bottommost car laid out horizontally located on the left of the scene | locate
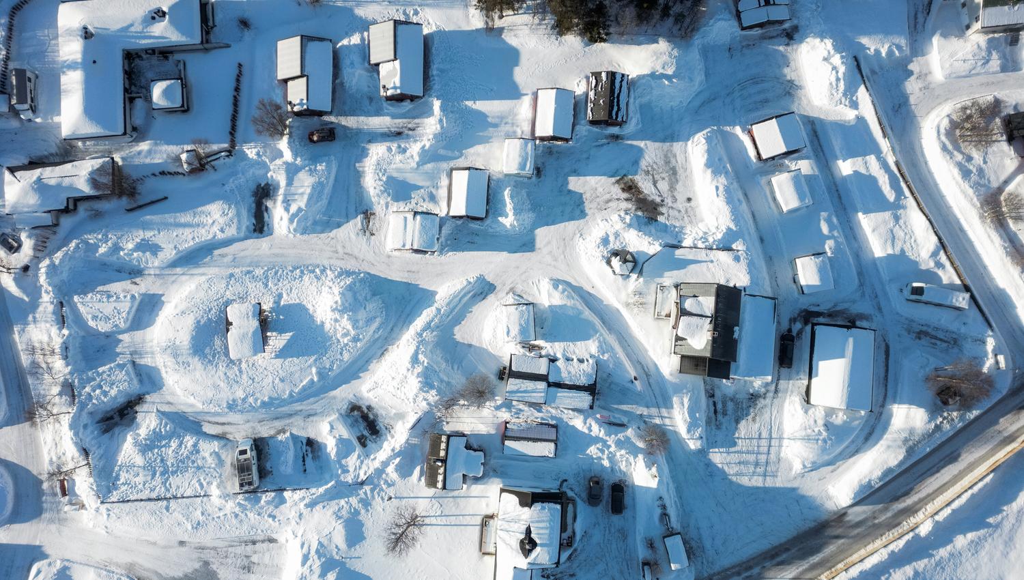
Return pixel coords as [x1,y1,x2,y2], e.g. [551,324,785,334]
[307,128,337,143]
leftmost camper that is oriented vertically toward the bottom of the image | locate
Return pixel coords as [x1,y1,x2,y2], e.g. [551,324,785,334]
[233,432,258,486]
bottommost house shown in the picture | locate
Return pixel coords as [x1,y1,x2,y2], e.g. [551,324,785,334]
[481,479,576,580]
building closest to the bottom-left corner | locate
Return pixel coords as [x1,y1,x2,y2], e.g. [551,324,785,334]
[226,302,270,359]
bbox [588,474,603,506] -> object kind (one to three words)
car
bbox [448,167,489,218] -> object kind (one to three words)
shed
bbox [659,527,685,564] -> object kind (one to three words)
trailer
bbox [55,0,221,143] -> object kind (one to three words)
house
